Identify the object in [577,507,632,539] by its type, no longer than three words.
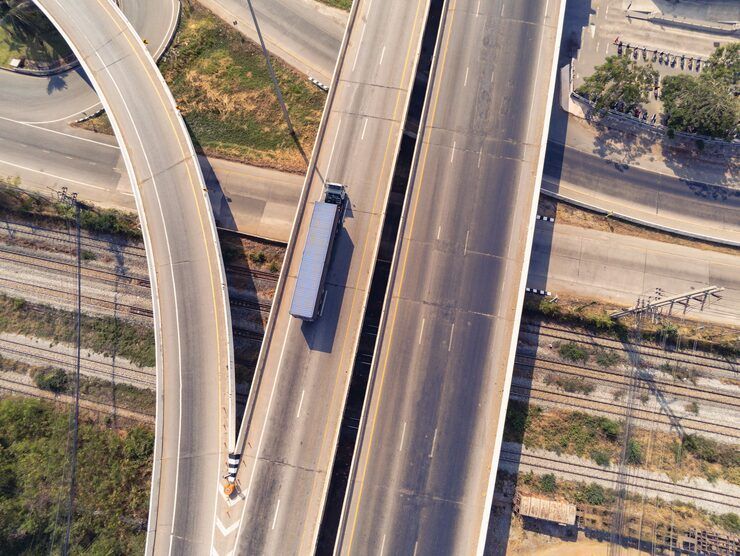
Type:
rail car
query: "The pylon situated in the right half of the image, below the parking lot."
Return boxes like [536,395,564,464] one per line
[610,287,730,328]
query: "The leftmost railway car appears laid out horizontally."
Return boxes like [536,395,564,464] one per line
[509,492,577,527]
